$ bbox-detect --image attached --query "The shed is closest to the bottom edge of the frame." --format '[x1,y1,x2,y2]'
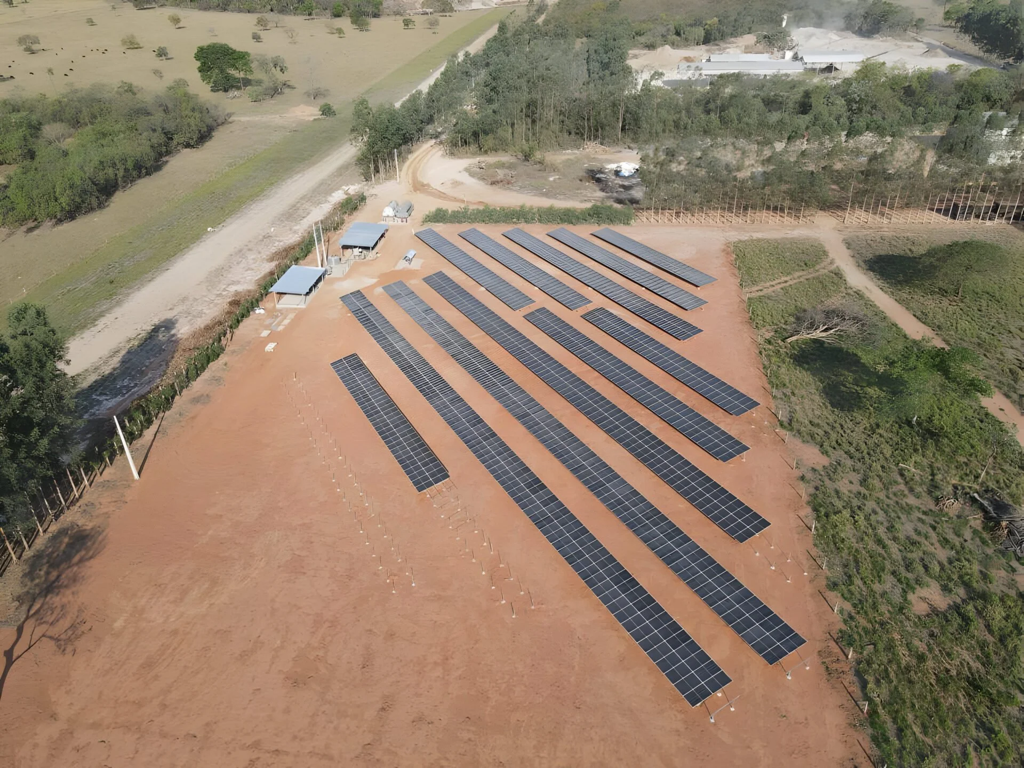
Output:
[269,266,327,307]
